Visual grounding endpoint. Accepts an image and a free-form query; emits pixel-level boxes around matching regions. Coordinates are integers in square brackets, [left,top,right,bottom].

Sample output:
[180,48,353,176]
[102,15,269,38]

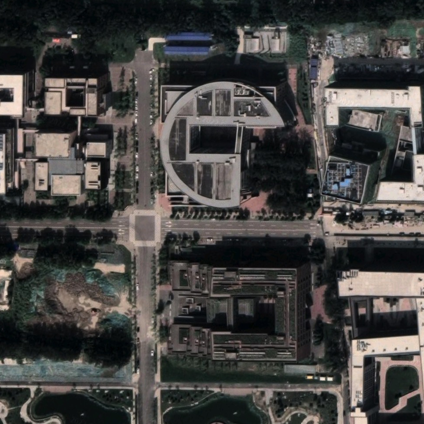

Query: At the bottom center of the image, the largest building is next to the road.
[168,256,311,361]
